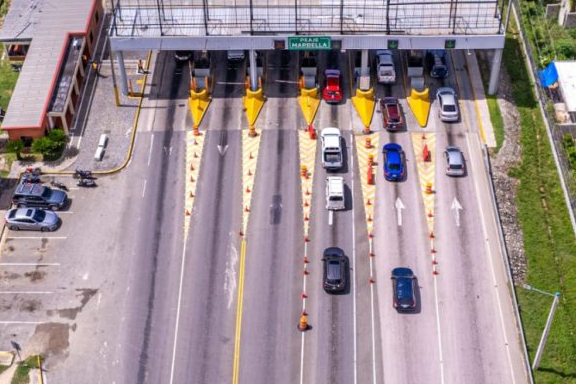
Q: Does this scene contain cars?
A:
Yes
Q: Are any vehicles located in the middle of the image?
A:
Yes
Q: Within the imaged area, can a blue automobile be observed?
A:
Yes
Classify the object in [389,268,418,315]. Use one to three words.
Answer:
car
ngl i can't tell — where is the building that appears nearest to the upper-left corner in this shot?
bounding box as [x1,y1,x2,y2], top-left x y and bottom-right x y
[0,0,101,155]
